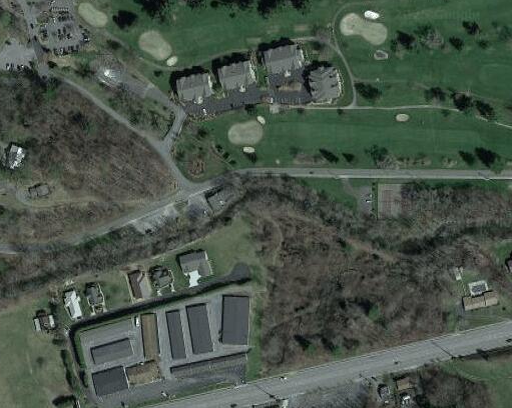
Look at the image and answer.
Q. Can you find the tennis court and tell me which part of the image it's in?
right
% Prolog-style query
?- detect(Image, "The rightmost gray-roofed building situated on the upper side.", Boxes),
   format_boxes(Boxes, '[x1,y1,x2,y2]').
[309,67,343,102]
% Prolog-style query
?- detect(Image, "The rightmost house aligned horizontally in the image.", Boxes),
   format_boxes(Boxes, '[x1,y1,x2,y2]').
[461,293,496,311]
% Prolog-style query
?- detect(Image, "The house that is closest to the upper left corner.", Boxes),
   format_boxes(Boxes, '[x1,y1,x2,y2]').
[6,144,26,170]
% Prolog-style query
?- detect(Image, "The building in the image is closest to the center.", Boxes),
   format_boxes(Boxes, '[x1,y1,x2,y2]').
[206,186,235,215]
